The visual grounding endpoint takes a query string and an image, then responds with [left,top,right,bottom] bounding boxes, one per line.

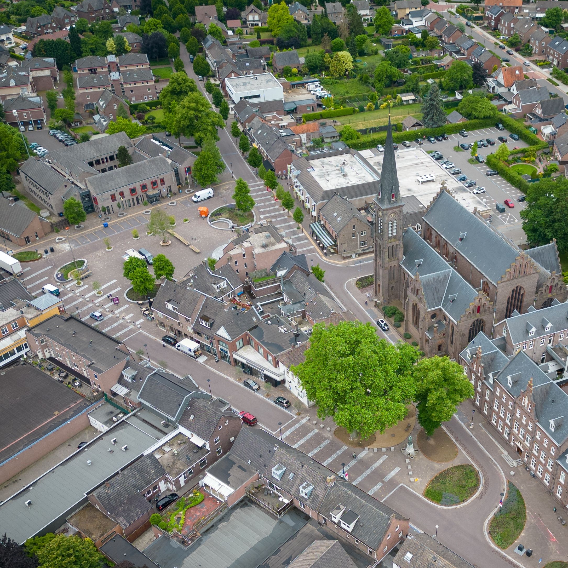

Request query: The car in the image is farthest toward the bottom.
[152,494,181,511]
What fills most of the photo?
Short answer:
buildings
